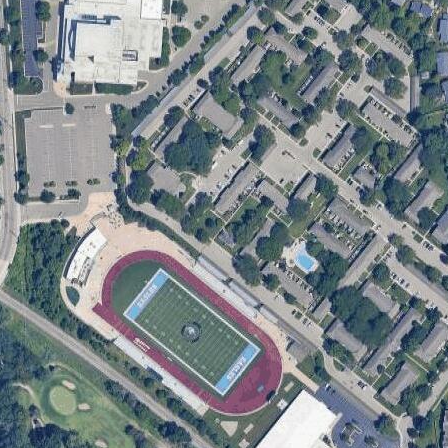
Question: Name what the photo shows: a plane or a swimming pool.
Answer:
swimming pool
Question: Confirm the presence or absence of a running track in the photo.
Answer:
Yes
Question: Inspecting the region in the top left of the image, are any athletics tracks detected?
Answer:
No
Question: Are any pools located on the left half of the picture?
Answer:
No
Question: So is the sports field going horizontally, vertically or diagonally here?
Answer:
diagonally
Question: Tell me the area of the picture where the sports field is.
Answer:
bottom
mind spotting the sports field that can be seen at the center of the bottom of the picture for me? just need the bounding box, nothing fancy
[111,259,268,402]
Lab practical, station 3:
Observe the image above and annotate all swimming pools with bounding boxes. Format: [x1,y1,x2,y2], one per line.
[282,239,321,271]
